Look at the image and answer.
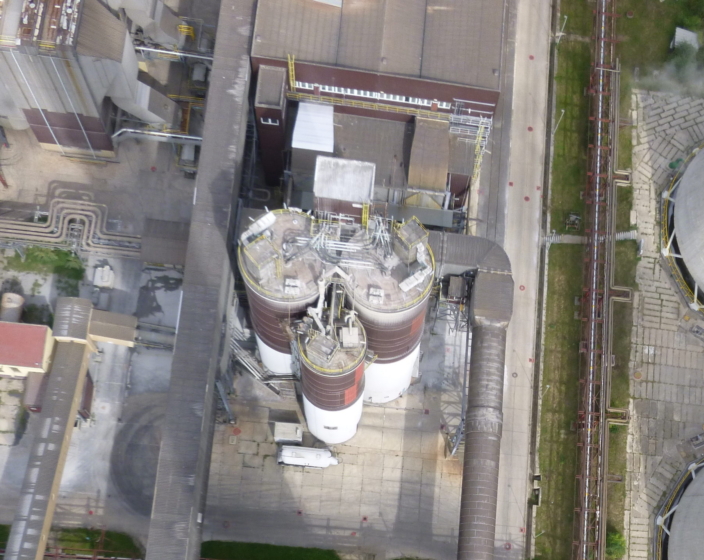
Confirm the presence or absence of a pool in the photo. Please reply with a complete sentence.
No, there appears to be no pool in this shot.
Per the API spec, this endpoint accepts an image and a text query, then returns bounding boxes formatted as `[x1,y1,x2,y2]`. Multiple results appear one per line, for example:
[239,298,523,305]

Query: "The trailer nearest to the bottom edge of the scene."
[279,445,341,466]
